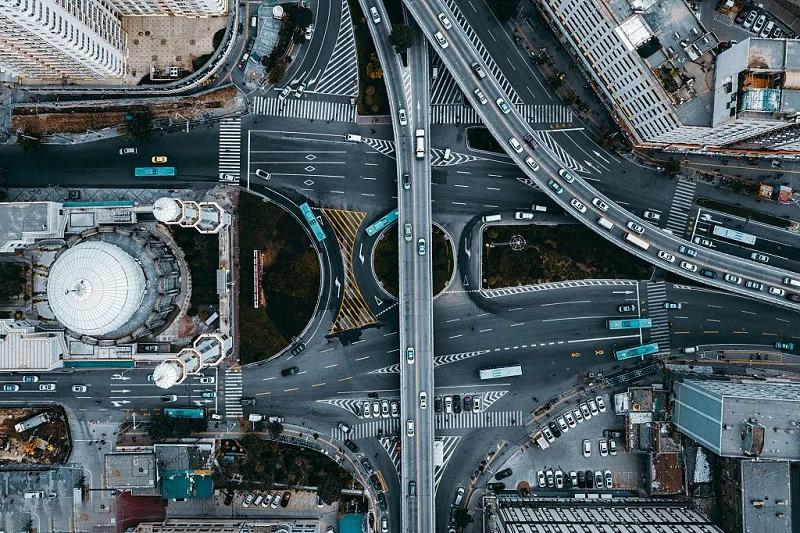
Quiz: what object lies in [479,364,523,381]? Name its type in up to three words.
vehicle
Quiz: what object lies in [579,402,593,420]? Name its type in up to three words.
car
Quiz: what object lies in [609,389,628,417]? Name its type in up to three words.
building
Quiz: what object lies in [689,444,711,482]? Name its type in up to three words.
shed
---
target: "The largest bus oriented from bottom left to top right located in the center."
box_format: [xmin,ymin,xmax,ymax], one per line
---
[363,204,399,239]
